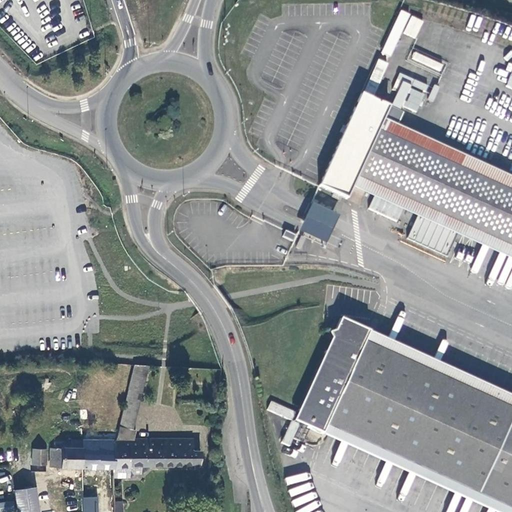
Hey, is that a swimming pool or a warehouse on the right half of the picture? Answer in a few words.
warehouse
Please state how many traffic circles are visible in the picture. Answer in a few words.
1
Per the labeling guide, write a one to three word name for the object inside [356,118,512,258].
warehouse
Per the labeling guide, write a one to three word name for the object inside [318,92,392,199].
building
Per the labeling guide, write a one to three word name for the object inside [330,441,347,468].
vehicle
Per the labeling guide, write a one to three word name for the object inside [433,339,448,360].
vehicle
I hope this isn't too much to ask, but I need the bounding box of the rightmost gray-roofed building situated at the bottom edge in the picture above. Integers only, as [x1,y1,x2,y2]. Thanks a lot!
[294,316,512,512]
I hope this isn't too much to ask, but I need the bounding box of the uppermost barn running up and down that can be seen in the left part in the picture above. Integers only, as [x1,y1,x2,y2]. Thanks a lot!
[120,365,149,430]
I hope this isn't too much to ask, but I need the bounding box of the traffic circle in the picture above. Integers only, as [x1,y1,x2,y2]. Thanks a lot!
[98,54,232,188]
